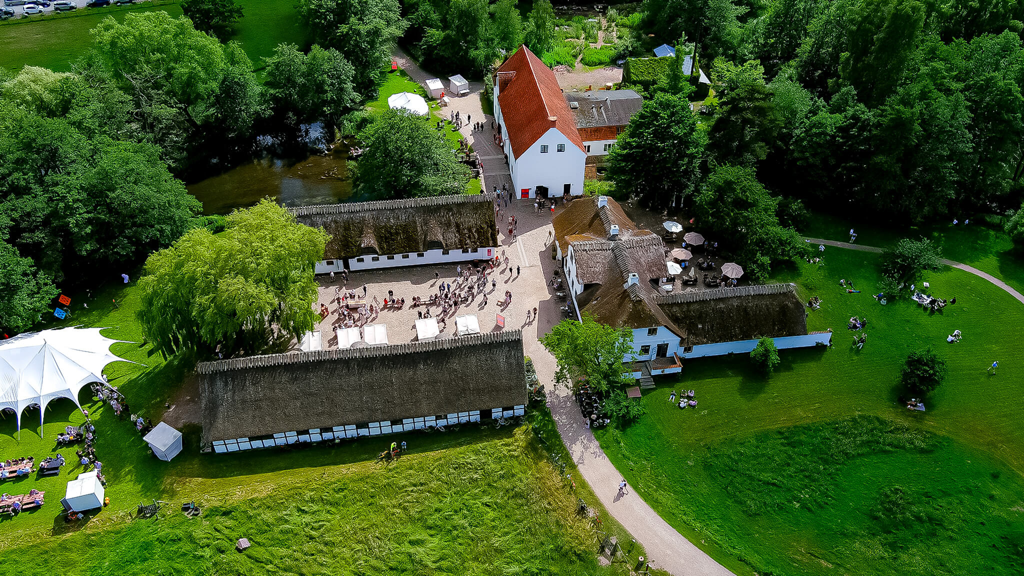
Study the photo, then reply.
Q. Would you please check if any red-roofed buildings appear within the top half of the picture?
Yes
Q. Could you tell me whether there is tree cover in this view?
Yes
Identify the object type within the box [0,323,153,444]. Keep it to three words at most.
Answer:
tent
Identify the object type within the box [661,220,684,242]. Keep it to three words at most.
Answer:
umbrella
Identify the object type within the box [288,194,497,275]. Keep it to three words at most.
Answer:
barn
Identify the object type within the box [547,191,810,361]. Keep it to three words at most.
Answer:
house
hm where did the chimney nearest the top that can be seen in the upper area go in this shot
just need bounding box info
[545,113,558,129]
